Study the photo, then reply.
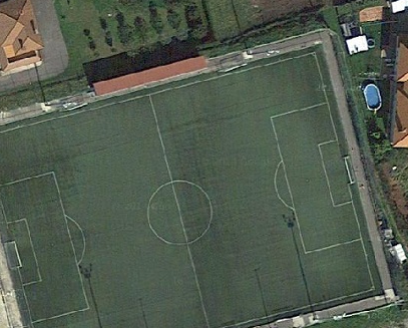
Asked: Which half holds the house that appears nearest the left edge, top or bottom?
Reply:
top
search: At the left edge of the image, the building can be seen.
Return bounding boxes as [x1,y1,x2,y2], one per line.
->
[0,0,45,73]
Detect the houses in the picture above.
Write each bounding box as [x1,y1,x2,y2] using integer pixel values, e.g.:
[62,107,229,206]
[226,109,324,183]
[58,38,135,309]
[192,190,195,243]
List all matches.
[386,0,408,13]
[0,0,45,73]
[387,42,408,148]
